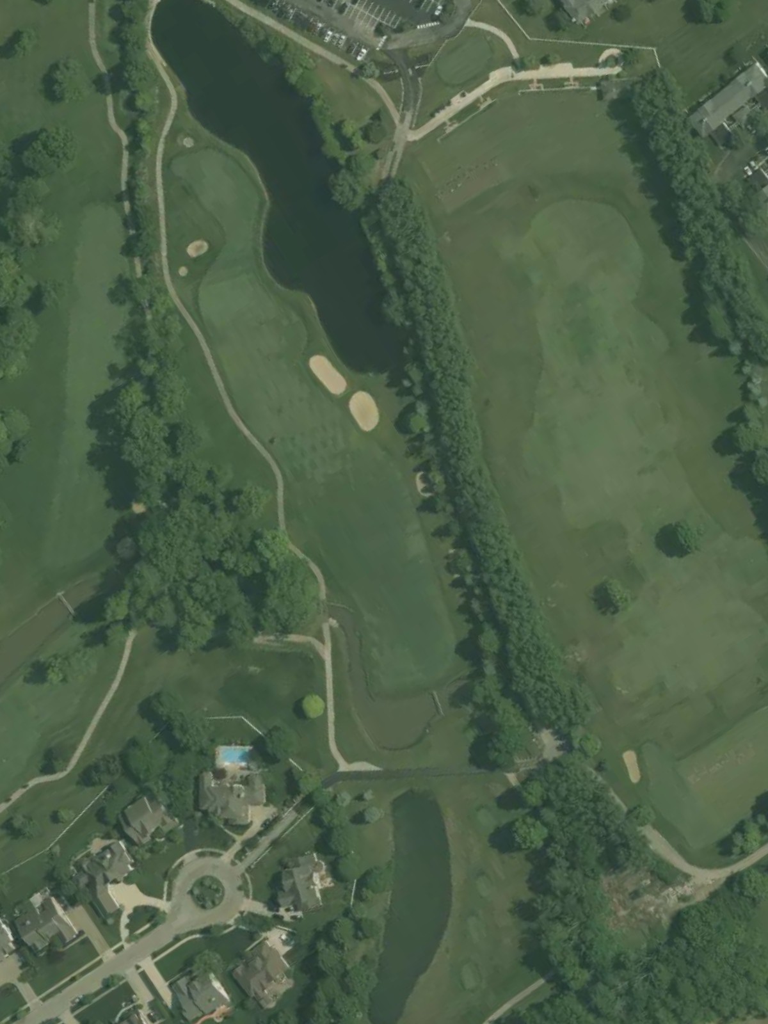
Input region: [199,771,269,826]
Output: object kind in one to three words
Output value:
house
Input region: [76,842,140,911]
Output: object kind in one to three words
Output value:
house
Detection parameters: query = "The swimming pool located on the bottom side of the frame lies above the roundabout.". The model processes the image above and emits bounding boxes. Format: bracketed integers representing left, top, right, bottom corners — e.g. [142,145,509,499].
[220,747,248,765]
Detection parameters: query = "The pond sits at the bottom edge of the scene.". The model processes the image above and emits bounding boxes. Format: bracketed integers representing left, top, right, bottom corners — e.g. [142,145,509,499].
[373,791,451,1024]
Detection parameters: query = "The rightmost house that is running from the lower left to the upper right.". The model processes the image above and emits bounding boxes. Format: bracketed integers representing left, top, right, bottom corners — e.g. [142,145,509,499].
[686,62,768,141]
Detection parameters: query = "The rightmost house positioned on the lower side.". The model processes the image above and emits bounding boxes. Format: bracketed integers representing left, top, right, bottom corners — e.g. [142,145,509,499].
[276,855,328,914]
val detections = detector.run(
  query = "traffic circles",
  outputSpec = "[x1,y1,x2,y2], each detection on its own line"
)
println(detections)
[172,855,243,925]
